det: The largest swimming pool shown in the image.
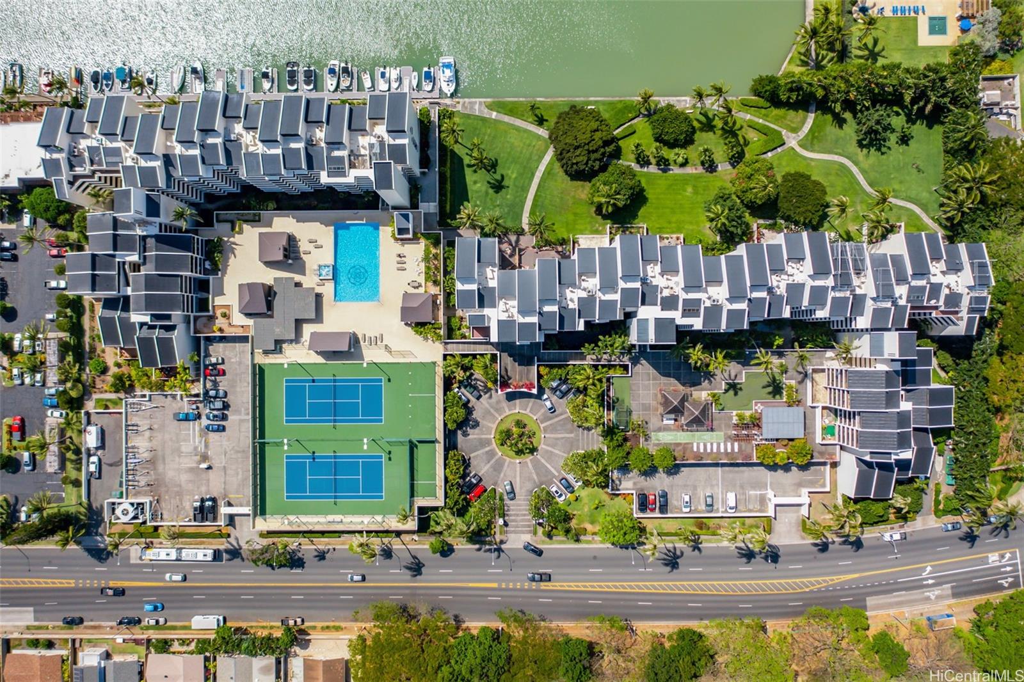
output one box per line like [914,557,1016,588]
[334,221,381,305]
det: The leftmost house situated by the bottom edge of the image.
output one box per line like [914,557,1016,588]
[4,649,70,682]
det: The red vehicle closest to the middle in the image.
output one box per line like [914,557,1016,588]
[471,484,486,500]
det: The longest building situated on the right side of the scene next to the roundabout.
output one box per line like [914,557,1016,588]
[455,231,995,358]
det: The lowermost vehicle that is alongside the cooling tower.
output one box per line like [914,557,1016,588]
[137,548,219,563]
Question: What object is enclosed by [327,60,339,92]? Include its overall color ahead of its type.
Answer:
white boat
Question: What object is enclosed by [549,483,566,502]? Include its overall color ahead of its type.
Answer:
white car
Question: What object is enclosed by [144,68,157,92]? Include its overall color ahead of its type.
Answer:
white boat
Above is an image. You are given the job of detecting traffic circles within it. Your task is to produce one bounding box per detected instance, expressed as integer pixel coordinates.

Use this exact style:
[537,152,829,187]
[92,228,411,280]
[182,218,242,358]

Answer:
[449,377,599,536]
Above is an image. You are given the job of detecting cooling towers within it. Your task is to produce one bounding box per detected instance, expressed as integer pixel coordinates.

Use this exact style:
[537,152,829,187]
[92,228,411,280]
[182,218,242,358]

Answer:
[105,497,159,523]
